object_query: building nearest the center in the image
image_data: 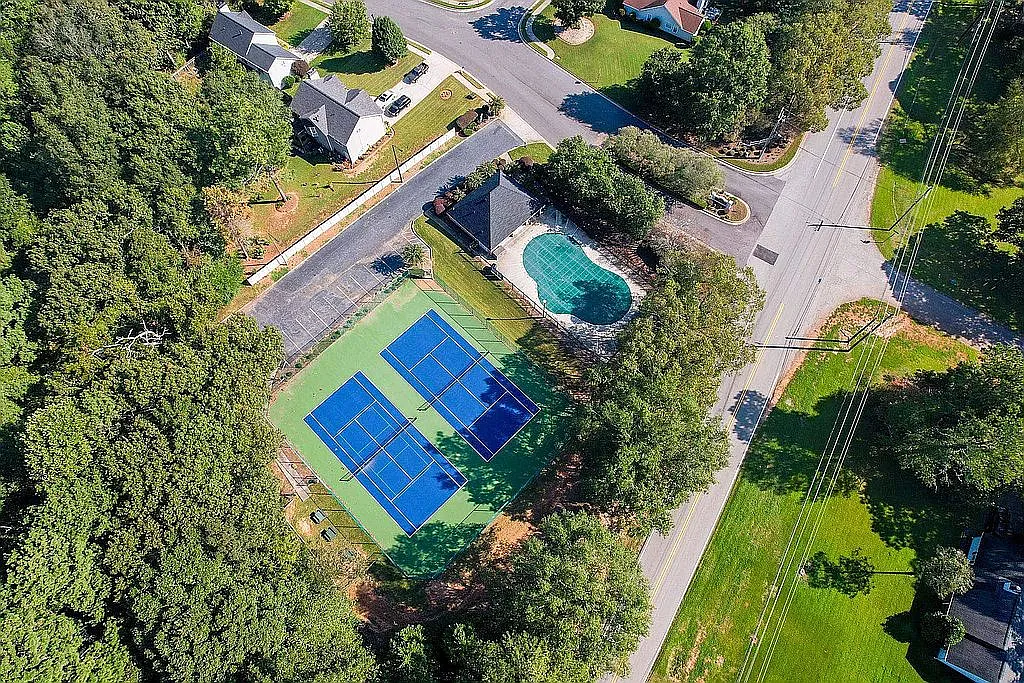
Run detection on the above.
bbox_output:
[445,168,546,256]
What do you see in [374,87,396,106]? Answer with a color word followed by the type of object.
white car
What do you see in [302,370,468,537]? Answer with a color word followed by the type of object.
blue tennis court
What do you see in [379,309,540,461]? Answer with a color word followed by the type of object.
blue tennis court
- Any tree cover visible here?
Yes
